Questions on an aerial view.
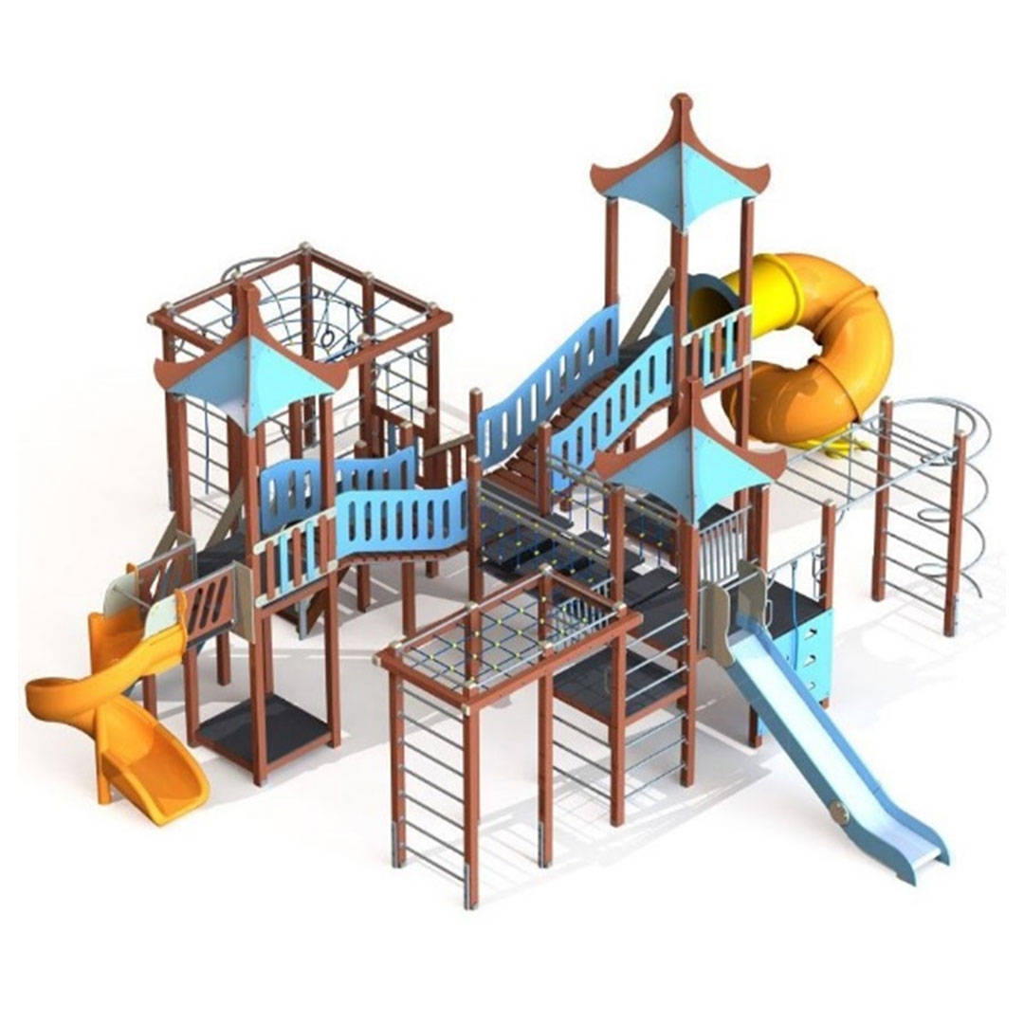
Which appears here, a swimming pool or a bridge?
bridge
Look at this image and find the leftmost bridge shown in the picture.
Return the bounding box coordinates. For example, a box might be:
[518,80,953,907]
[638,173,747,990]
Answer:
[266,444,471,576]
